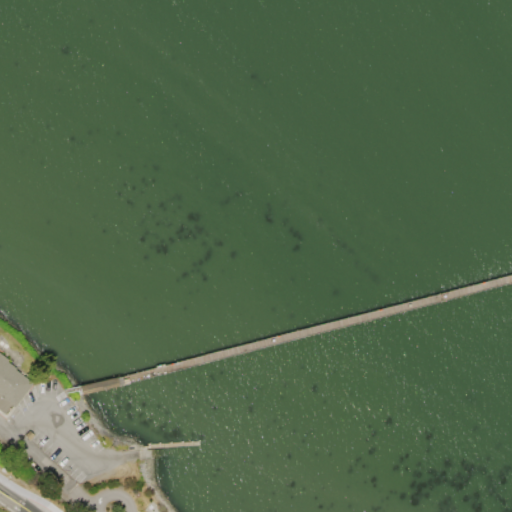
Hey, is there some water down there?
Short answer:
Yes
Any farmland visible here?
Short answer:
No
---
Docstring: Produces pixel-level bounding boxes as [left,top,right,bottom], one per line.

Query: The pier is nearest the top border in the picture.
[78,276,512,396]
